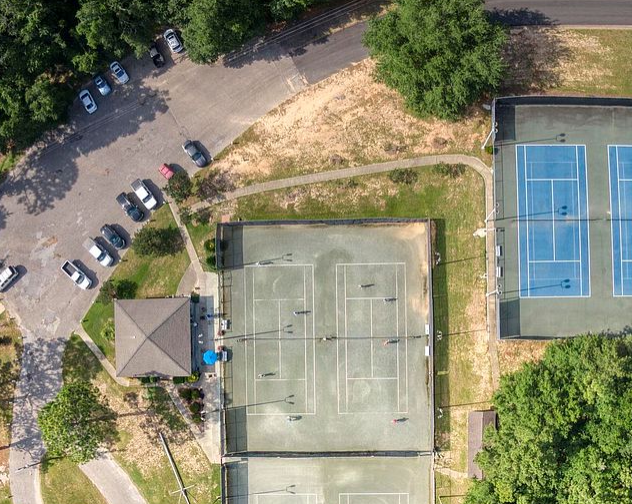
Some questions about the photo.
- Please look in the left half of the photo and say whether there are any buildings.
Yes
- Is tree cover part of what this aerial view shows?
Yes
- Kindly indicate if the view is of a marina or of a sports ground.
sports ground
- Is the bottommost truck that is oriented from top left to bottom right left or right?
left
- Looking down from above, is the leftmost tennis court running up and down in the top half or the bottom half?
bottom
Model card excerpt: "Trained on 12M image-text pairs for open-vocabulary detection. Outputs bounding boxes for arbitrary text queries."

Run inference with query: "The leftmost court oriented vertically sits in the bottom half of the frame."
[222,223,328,455]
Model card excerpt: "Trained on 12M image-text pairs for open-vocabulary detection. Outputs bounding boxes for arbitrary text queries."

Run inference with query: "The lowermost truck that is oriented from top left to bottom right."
[56,257,91,291]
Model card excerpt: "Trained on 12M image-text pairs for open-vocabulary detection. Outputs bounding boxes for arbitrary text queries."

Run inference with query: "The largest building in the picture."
[113,297,195,378]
